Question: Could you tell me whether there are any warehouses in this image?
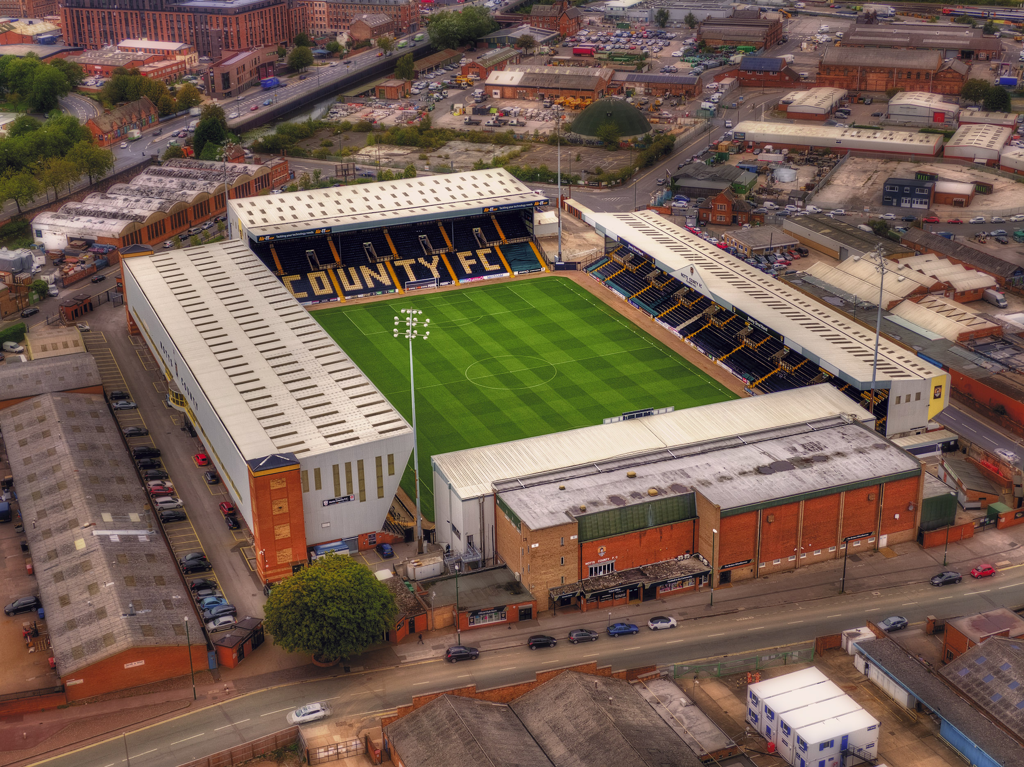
Yes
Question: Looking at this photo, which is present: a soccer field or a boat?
soccer field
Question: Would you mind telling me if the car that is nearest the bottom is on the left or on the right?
left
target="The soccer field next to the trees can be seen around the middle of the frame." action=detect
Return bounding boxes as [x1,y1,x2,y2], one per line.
[310,276,741,518]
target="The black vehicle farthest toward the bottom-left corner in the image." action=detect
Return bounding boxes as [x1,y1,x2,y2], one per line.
[7,596,40,616]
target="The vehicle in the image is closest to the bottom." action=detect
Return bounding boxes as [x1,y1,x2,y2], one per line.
[291,702,328,725]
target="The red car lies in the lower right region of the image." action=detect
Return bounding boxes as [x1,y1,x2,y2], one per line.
[970,564,997,580]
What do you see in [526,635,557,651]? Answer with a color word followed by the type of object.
black car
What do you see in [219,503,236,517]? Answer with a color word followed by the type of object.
red car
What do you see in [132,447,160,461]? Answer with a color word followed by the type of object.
black car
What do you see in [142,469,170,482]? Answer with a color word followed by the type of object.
black vehicle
